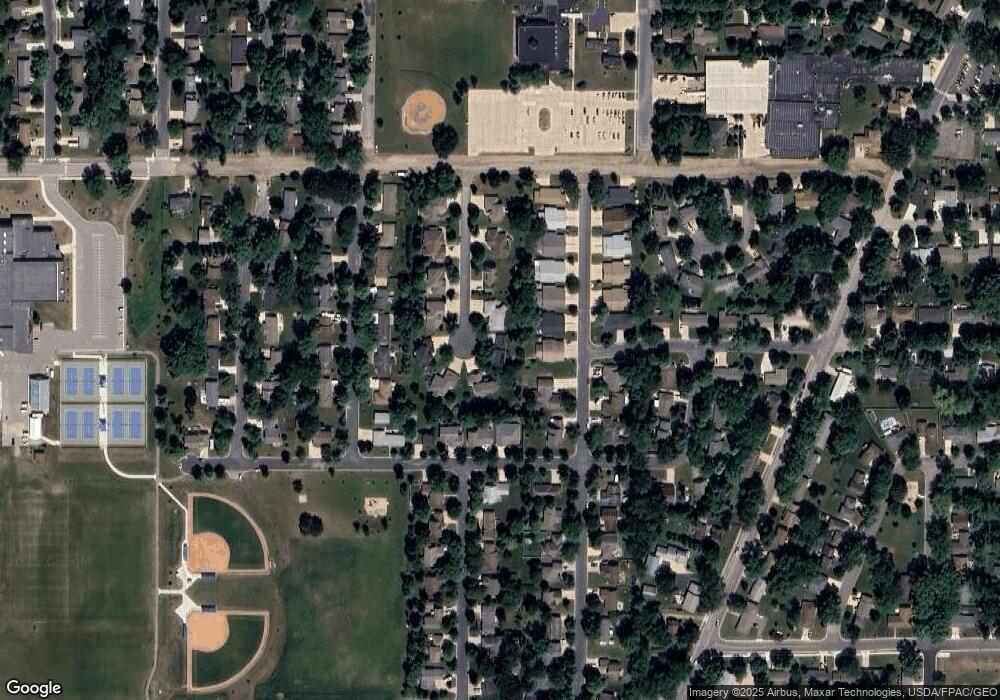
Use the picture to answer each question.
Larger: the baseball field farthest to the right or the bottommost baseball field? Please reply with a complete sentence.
The bottommost baseball field covers a greater area than the baseball field farthest to the right.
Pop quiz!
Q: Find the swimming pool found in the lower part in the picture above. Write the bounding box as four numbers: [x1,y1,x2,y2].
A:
[881,417,898,432]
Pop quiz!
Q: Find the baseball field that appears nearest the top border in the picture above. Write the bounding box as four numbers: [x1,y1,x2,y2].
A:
[402,90,445,134]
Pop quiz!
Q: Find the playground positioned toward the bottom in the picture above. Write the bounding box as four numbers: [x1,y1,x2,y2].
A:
[364,497,389,534]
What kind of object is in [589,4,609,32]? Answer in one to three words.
building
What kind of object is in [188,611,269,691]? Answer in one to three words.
baseball field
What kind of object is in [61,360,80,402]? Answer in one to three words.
tennis court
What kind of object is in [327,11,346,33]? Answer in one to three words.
house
